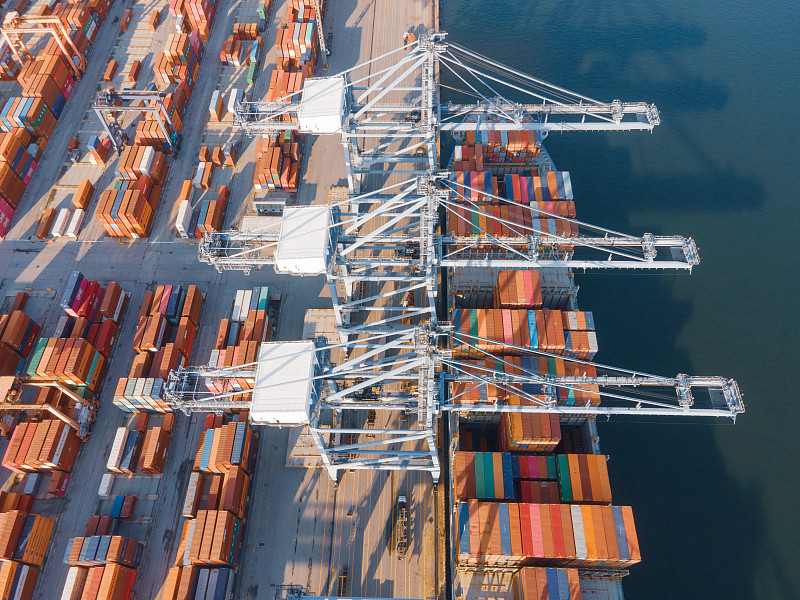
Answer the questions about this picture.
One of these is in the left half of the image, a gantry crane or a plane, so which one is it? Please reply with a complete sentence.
The one visible in the left half of the image is a gantry crane.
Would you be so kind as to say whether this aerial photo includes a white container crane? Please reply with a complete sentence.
Yes, there is a white container crane in the image.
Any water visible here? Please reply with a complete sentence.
Yes, some water is visible.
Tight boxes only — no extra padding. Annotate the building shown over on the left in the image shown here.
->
[247,196,285,216]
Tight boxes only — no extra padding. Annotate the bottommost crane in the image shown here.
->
[218,577,437,600]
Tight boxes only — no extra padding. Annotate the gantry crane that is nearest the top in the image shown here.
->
[0,15,88,80]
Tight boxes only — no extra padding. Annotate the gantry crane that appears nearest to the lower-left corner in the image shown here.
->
[0,375,94,438]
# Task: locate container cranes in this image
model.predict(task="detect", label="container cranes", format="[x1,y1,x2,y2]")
[218,577,437,600]
[196,163,707,365]
[0,375,94,438]
[0,15,88,80]
[230,23,665,230]
[91,91,180,155]
[161,312,749,497]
